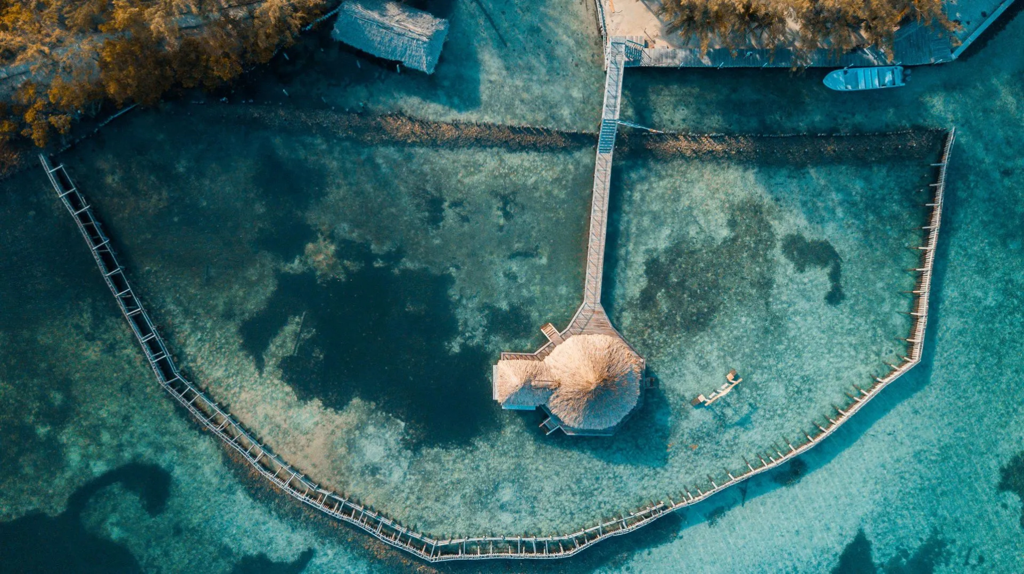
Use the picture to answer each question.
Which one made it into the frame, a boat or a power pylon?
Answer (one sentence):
Visible in the photo is a boat.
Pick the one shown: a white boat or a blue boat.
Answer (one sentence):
Looking from above, you can make out a blue boat.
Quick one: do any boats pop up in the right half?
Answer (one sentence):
Yes, there is a boat in the right half.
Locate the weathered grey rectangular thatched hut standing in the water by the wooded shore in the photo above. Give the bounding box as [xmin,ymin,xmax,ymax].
[329,0,451,78]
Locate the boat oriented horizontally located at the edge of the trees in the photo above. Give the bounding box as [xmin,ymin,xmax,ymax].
[824,65,911,90]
